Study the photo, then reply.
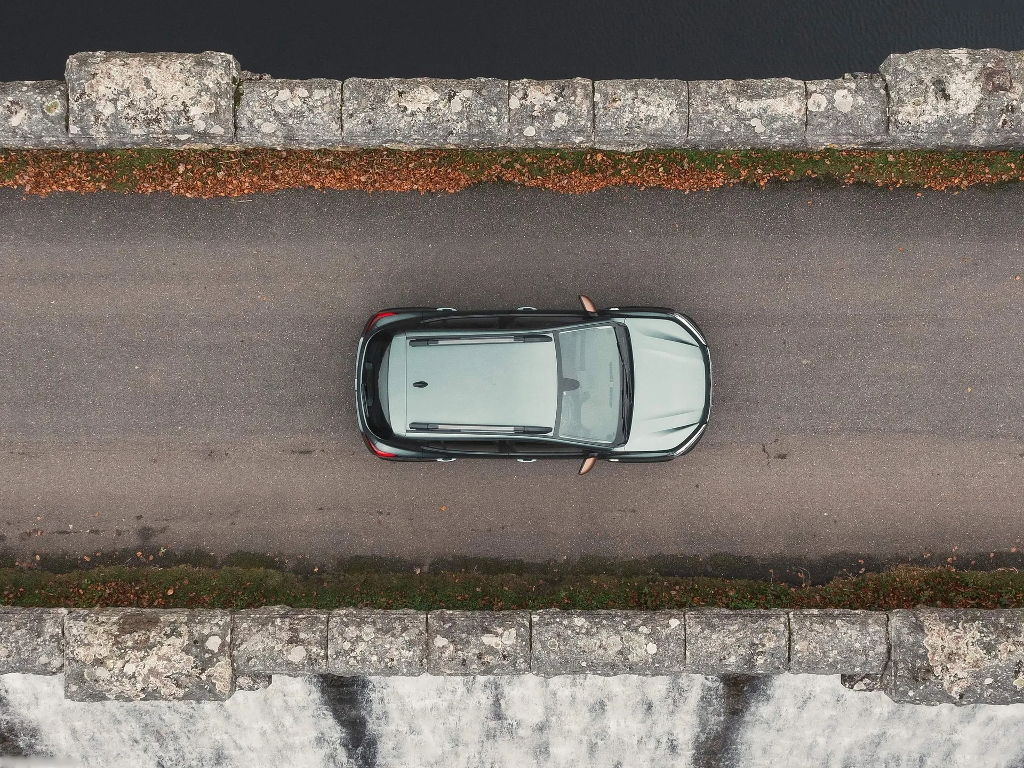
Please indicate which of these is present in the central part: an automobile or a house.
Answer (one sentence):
The feature located in the central part is an automobile.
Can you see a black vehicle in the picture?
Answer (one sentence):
No, no black vehicle can be seen from above.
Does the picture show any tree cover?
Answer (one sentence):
No, the picture contains no tree cover.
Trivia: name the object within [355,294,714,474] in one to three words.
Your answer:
car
